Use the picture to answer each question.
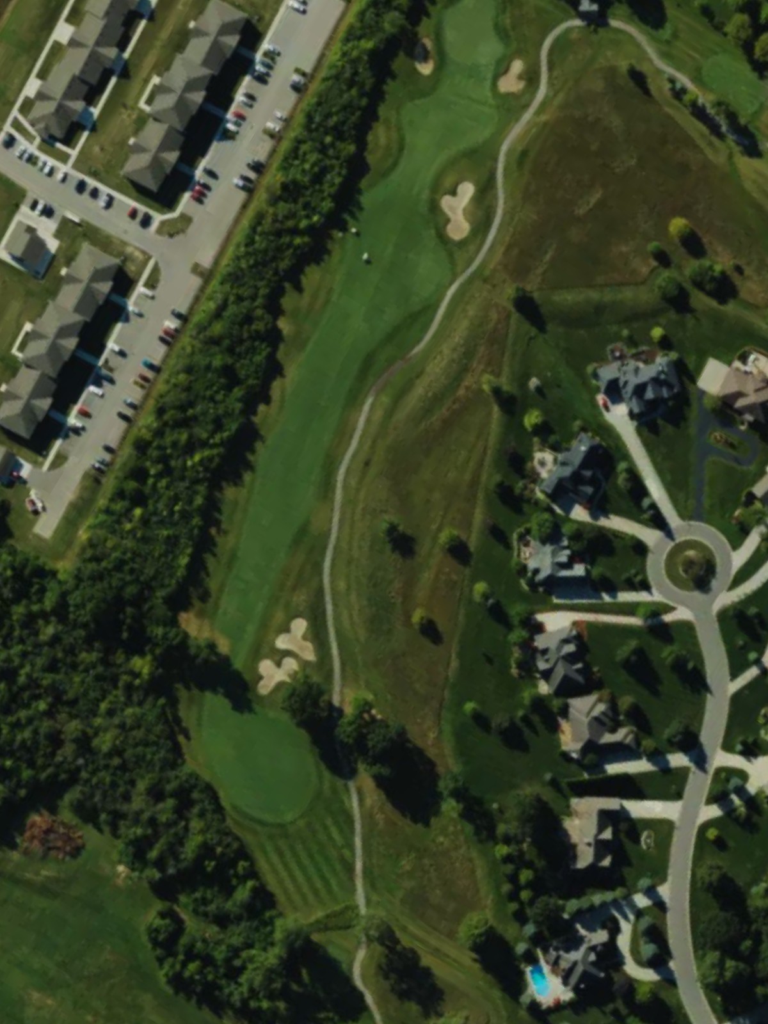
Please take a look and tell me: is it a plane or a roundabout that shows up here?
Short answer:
roundabout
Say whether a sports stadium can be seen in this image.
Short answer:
No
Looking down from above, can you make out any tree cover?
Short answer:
Yes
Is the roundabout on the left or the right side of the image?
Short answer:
right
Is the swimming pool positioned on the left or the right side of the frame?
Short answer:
right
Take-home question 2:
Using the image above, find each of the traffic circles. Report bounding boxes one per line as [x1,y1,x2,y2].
[648,521,733,607]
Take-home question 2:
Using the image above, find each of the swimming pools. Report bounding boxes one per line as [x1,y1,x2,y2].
[526,948,573,1009]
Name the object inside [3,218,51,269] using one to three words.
building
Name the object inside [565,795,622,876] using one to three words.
house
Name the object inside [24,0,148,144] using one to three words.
building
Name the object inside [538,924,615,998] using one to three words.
house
